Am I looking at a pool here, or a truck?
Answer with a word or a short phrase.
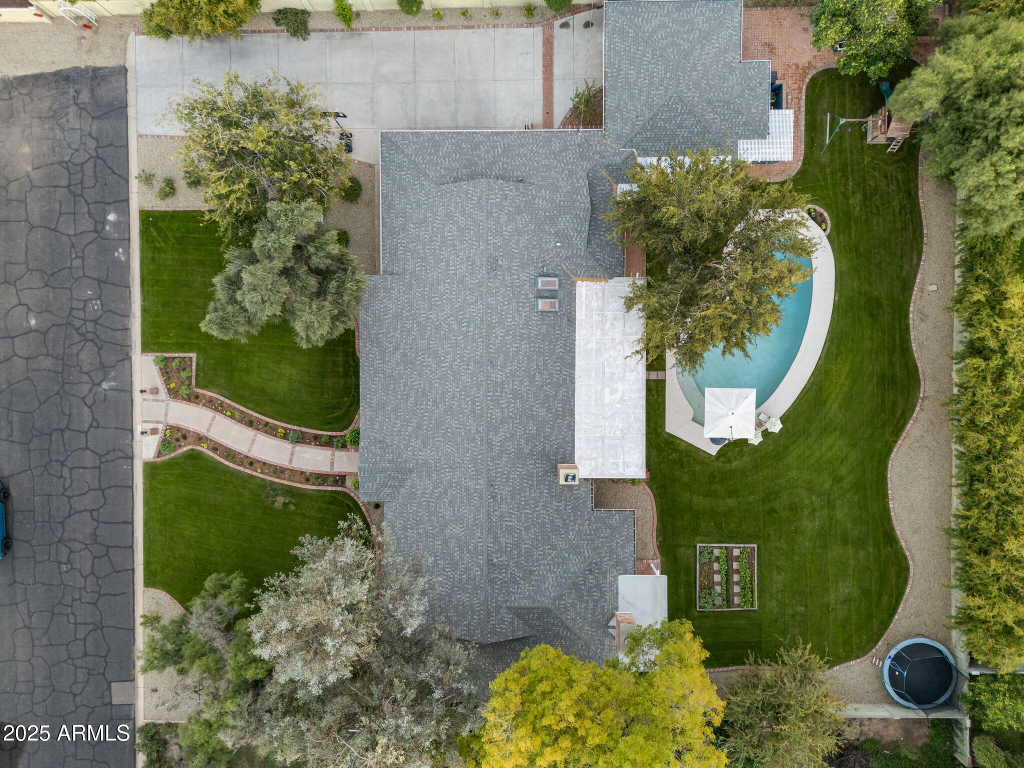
pool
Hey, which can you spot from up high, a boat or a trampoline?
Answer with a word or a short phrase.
trampoline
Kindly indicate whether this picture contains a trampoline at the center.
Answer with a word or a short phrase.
No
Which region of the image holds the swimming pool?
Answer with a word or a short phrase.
right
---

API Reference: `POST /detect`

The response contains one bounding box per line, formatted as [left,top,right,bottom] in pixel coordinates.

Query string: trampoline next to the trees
[876,631,966,718]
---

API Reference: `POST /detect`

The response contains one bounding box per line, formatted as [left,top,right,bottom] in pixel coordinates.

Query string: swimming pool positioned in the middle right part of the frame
[684,226,813,426]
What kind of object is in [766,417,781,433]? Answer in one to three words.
umbrella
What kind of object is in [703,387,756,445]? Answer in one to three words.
umbrella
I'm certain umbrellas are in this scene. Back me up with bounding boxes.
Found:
[703,387,756,445]
[747,429,762,445]
[766,417,781,433]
